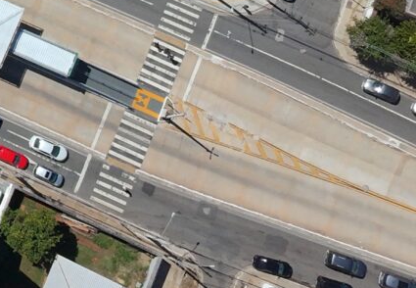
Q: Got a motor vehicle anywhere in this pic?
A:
Yes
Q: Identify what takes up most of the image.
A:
paved ground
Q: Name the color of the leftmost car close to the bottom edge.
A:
black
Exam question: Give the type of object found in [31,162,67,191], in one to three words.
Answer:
car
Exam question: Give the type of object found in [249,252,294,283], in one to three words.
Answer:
car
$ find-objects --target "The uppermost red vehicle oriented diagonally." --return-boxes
[0,143,32,173]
